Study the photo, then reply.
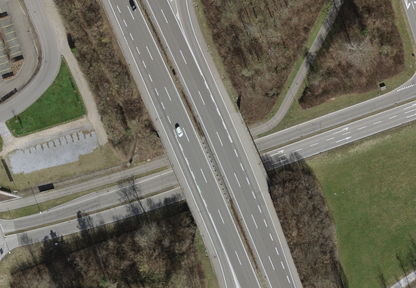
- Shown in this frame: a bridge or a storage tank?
bridge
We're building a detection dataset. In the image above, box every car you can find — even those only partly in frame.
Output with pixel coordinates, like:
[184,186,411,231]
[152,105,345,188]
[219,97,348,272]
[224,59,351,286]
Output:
[176,127,183,138]
[130,0,137,10]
